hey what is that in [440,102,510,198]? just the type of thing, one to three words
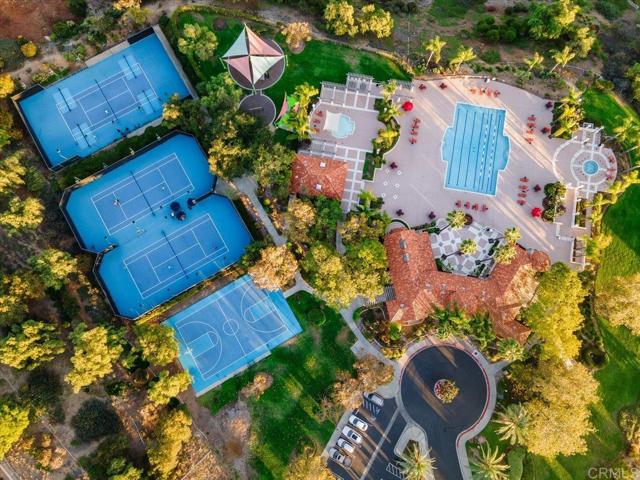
swimming pool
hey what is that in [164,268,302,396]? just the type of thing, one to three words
basketball court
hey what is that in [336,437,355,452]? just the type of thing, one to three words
car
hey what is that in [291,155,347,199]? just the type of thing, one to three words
building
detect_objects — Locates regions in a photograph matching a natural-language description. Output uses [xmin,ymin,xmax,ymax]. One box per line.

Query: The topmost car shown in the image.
[363,391,384,408]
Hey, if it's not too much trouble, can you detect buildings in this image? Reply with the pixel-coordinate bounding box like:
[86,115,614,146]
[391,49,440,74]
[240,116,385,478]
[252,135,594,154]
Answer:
[291,155,347,199]
[382,216,551,344]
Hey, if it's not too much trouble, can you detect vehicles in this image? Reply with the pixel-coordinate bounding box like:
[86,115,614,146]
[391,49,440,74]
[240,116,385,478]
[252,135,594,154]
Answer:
[336,437,355,452]
[342,426,362,442]
[363,391,384,408]
[348,414,368,431]
[328,448,349,465]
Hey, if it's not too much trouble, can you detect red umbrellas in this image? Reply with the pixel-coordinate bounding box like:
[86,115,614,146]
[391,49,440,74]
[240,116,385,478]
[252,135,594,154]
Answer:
[402,102,412,112]
[529,207,541,218]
